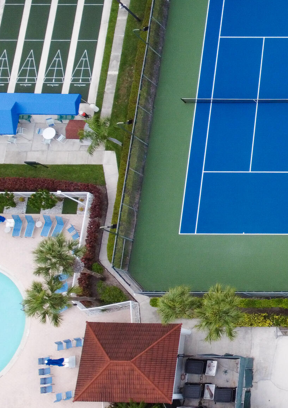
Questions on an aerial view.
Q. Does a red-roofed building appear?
Yes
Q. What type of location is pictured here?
sports ground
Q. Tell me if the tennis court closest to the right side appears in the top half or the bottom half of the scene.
top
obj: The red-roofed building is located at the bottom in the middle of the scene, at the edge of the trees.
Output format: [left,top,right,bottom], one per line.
[72,321,194,404]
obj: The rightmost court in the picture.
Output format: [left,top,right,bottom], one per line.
[180,0,288,234]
